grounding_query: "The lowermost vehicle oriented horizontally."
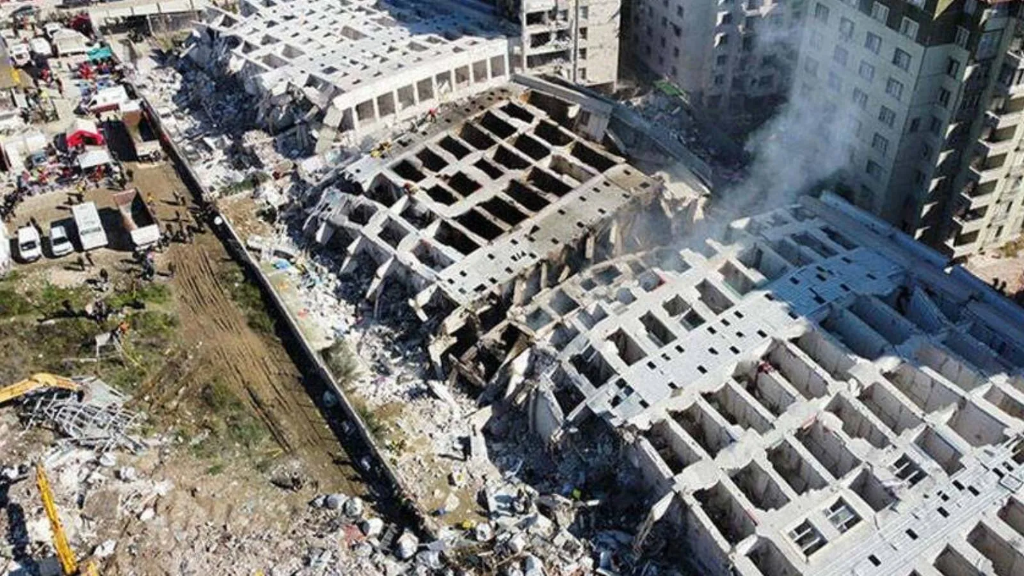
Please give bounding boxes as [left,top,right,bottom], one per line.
[0,368,92,400]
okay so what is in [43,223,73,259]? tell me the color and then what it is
white car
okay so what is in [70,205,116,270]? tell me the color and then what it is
white vehicle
